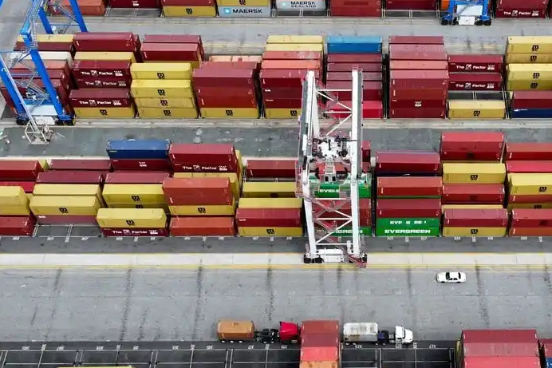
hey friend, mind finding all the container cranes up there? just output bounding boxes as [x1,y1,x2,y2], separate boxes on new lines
[443,0,492,24]
[292,66,369,268]
[0,0,84,125]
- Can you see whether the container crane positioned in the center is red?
No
